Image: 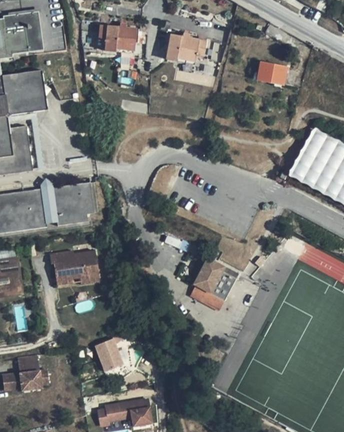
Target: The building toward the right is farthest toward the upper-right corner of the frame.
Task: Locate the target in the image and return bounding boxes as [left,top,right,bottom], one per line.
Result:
[258,62,290,86]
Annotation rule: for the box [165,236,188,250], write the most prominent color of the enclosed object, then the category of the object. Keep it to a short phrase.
white vehicle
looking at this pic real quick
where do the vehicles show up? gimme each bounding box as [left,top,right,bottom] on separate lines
[0,393,9,398]
[192,174,200,186]
[165,236,188,250]
[191,204,198,214]
[52,15,64,21]
[52,22,62,27]
[306,8,316,20]
[50,10,62,15]
[204,184,212,194]
[178,197,187,208]
[300,6,308,16]
[313,12,322,22]
[184,198,194,211]
[179,168,186,178]
[208,186,216,196]
[179,305,188,314]
[196,178,204,188]
[184,170,192,182]
[170,298,179,308]
[170,192,178,202]
[212,24,223,30]
[26,118,32,128]
[165,28,175,34]
[200,22,212,28]
[192,20,200,27]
